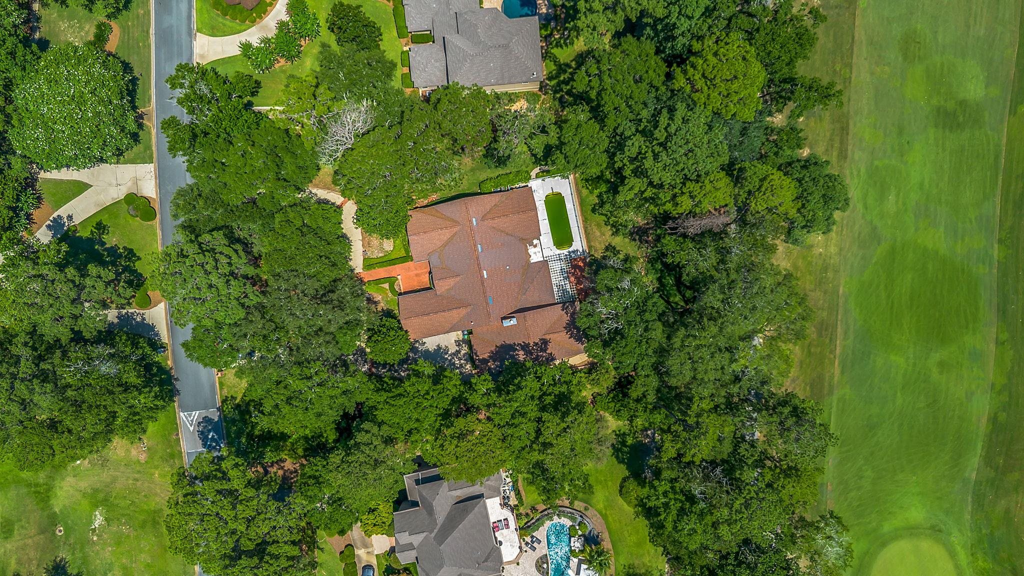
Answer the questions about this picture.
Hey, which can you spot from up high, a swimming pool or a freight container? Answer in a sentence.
The image shows a swimming pool.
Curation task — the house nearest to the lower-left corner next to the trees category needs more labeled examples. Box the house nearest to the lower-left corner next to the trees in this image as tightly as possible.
[393,463,503,576]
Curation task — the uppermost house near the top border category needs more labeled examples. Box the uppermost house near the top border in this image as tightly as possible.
[405,0,543,99]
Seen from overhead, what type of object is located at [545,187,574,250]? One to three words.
swimming pool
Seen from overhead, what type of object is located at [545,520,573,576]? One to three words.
swimming pool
